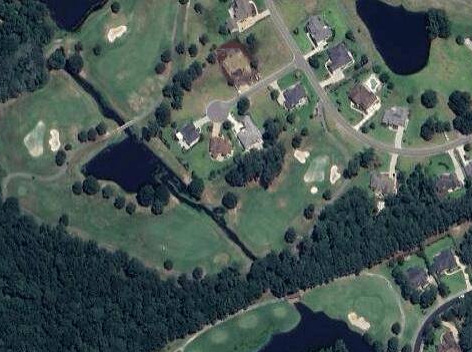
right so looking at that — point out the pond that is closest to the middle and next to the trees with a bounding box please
[81,137,205,206]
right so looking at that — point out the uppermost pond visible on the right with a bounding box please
[356,0,431,75]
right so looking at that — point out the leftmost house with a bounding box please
[178,122,201,147]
